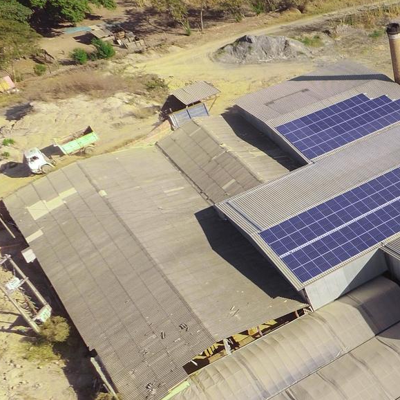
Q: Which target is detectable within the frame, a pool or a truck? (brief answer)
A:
truck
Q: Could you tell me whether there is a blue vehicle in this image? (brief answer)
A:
No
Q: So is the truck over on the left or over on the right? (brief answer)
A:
left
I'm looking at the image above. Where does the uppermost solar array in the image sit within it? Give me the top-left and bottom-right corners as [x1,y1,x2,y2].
[277,94,400,159]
